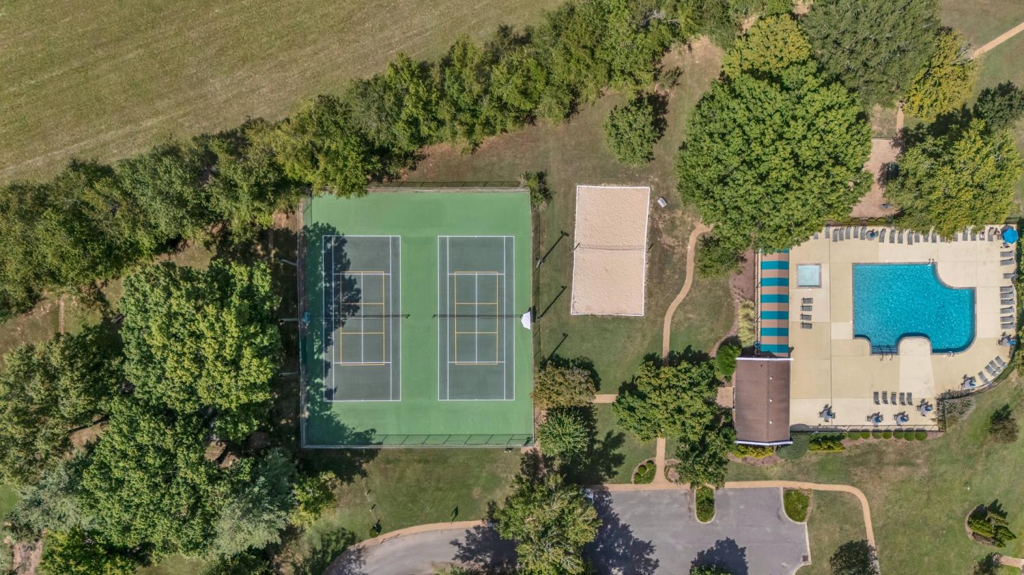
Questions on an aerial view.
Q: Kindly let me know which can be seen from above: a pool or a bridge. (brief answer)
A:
pool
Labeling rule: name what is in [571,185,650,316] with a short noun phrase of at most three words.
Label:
sports court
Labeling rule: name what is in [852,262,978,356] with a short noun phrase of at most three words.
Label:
swimming pool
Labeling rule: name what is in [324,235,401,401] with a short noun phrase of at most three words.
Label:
tennis court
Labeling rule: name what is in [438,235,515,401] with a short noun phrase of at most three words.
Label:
tennis court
